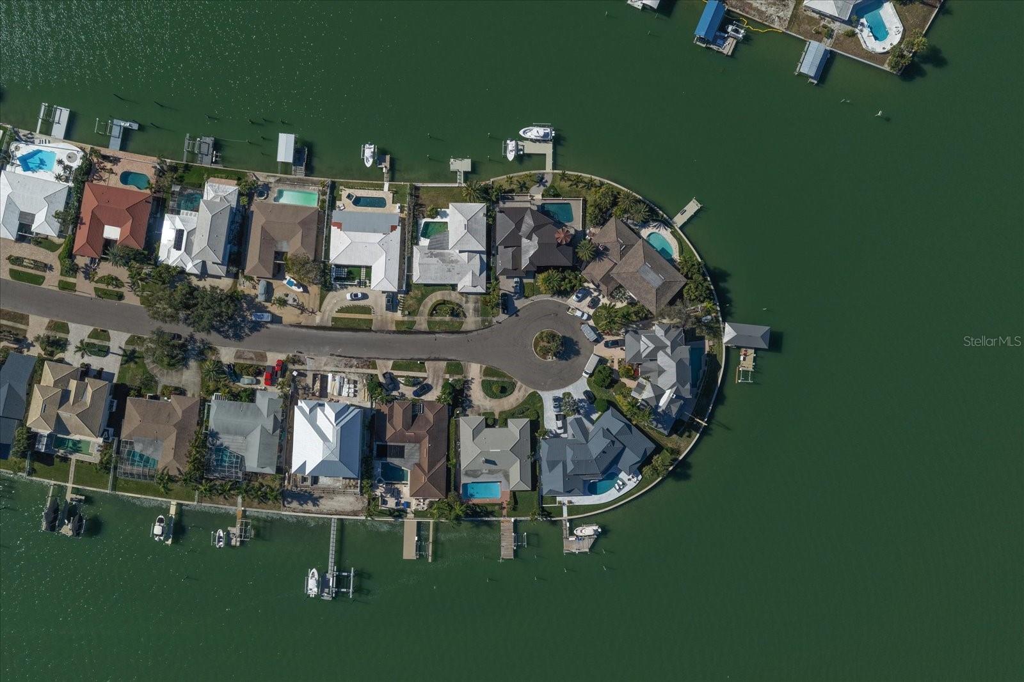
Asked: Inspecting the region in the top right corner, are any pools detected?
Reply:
Yes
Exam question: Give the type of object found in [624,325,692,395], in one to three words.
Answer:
house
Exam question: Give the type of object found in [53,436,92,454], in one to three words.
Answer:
swimming pool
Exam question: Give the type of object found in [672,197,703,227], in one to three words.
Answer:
pier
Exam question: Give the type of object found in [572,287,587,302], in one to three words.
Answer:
car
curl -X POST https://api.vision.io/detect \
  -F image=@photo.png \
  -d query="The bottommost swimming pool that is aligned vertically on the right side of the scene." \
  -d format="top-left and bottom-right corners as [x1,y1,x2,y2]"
[691,345,704,385]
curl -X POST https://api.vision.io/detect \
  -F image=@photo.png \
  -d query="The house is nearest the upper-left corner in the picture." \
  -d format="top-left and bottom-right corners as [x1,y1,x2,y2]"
[0,170,69,240]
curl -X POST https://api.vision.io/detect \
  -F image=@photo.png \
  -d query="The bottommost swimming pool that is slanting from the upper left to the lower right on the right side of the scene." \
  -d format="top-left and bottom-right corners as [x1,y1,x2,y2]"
[647,231,674,258]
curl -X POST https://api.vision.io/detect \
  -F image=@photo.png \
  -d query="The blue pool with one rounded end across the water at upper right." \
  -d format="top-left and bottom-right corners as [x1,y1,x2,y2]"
[857,1,890,42]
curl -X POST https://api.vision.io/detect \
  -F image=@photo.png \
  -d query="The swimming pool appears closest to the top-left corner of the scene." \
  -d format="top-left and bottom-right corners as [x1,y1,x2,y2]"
[16,149,57,172]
